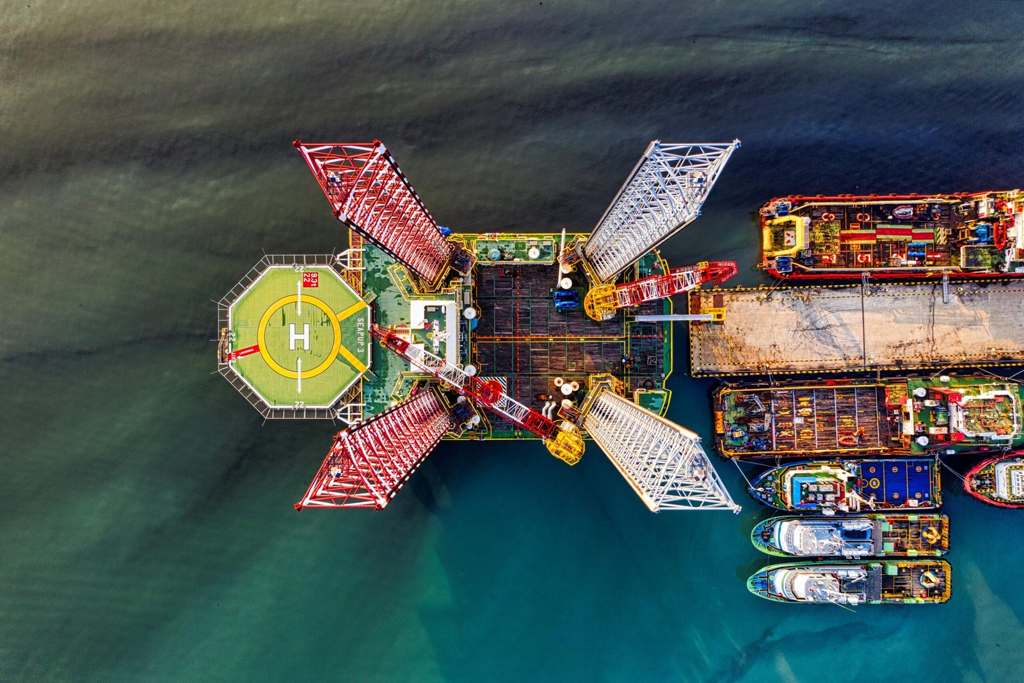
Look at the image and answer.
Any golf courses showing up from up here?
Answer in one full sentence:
No, this view has no golf course in it.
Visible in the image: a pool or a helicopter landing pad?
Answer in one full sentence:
The image shows a helicopter landing pad.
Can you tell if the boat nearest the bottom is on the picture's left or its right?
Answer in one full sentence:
The boat nearest the bottom sits on the right side.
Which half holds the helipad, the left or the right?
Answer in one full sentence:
The helipad is on the left side of the image.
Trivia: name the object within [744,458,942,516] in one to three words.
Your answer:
boat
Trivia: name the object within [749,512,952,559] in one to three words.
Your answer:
boat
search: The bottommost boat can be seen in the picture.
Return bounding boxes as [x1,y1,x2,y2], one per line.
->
[744,558,954,613]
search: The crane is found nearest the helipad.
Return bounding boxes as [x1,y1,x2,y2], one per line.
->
[367,323,584,460]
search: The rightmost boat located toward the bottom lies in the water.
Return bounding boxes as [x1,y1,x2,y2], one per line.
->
[953,448,1024,511]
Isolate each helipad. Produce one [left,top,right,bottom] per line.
[209,247,378,426]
